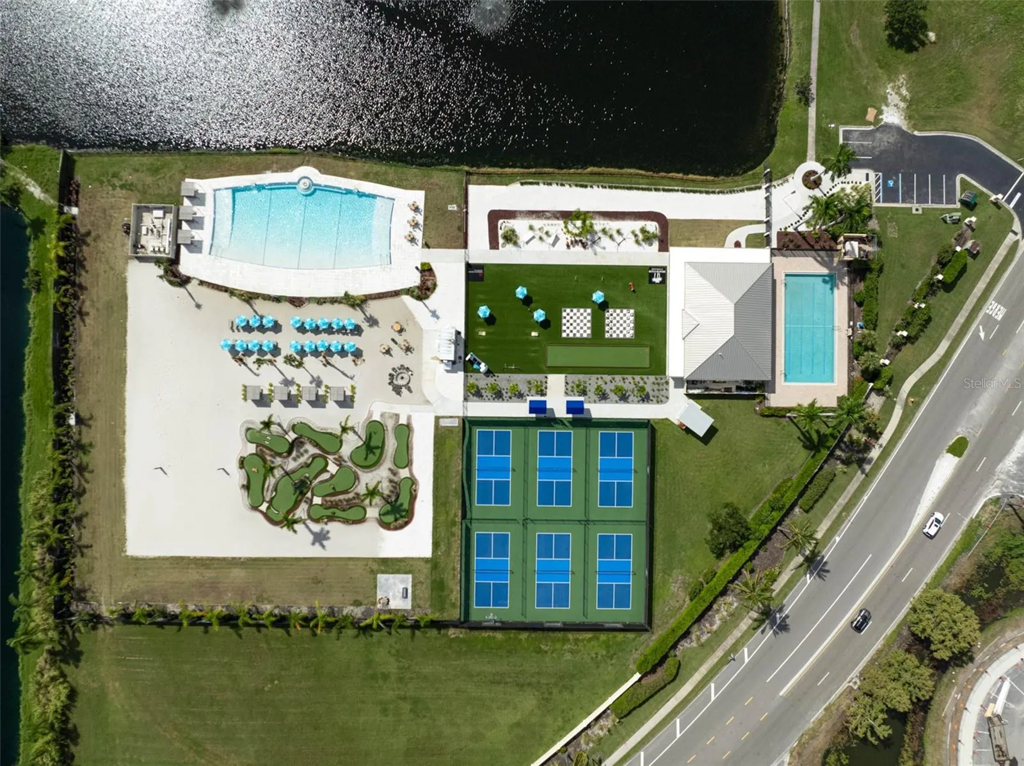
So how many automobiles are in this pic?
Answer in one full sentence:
There are 2 automobiles in the image.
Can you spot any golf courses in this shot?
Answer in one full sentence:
Yes, there's a golf course here.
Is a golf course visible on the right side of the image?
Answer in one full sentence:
No, no golf course is visible on the right side of the image.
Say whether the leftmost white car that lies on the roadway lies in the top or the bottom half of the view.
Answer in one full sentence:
The leftmost white car that lies on the roadway sits in the bottom half of the picture.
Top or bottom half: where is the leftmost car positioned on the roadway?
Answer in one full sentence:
It is in the bottom half that the leftmost car positioned on the roadway appears.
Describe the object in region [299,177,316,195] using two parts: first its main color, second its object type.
white fountain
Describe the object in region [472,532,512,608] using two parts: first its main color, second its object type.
blue sports court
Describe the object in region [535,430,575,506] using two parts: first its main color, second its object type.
blue sports court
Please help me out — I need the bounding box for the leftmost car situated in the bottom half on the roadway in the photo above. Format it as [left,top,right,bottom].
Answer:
[850,607,871,634]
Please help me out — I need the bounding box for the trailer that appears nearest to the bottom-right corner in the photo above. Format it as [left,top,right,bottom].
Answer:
[989,716,1012,766]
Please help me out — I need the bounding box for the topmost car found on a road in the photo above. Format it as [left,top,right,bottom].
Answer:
[922,512,943,539]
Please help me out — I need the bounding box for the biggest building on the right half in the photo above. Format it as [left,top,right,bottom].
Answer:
[666,248,773,381]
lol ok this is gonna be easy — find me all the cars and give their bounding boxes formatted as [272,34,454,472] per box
[850,607,871,634]
[922,512,943,539]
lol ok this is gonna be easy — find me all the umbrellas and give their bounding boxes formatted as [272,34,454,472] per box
[235,339,247,352]
[249,314,260,327]
[290,339,302,352]
[304,339,316,351]
[593,291,605,303]
[263,339,275,351]
[516,287,528,299]
[534,309,545,321]
[317,340,330,351]
[330,340,342,352]
[262,317,275,328]
[235,314,247,326]
[344,318,356,330]
[290,316,303,328]
[479,306,491,319]
[220,339,232,352]
[317,318,329,329]
[344,341,356,353]
[305,318,317,331]
[332,318,344,331]
[248,340,261,351]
